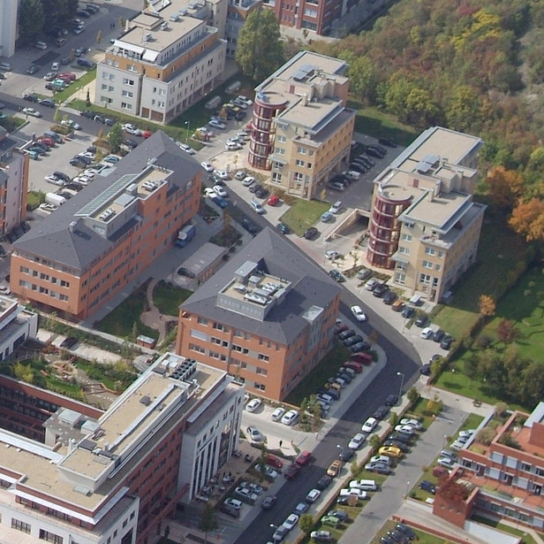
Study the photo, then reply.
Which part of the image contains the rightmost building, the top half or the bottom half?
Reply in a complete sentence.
The rightmost building sits in the bottom half of the picture.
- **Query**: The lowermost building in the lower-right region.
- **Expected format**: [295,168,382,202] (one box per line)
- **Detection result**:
[430,399,544,532]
